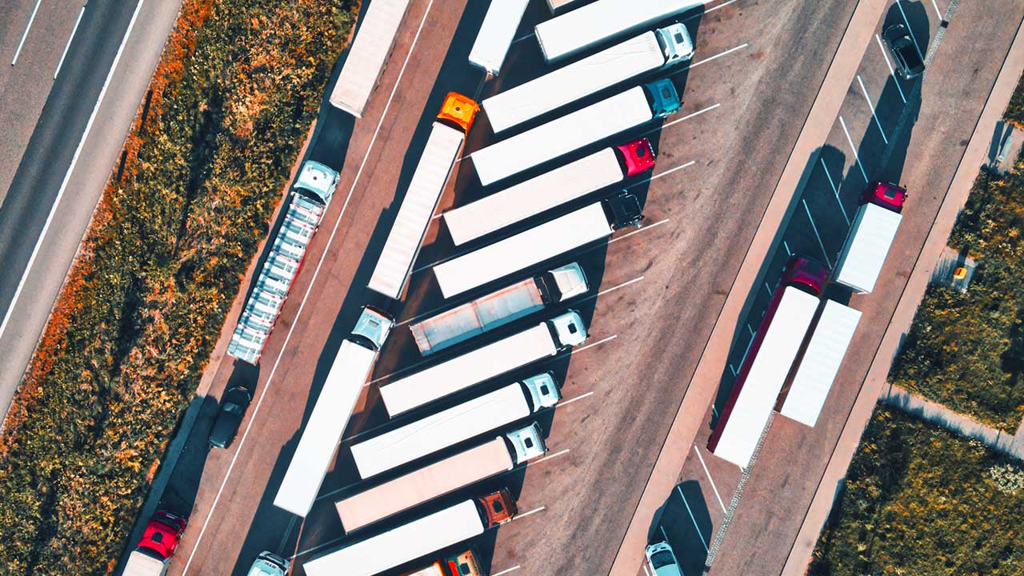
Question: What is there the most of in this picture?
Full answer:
The scene is dominated by paved ground.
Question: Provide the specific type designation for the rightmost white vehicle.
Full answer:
It turns out the rightmost white vehicle is a truck.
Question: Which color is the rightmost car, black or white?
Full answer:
From above, the rightmost car appears black.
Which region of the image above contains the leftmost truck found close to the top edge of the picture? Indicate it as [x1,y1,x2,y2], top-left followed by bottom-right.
[330,0,420,122]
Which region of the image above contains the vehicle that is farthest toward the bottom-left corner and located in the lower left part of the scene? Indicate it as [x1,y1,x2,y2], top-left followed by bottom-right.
[122,508,190,576]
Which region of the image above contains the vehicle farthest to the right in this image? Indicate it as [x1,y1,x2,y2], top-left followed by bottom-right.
[883,25,927,83]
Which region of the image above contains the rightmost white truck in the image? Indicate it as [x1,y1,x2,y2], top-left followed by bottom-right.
[771,177,908,426]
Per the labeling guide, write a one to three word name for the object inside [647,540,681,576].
vehicle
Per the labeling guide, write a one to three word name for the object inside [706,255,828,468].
truck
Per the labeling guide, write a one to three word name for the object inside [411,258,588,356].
truck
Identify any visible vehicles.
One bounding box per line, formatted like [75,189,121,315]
[468,0,532,81]
[647,540,681,576]
[433,188,642,299]
[305,479,517,576]
[883,25,927,83]
[544,0,597,18]
[471,76,680,189]
[379,308,588,419]
[482,22,693,138]
[351,367,562,479]
[122,508,190,576]
[706,255,828,468]
[367,92,480,298]
[335,419,545,534]
[330,0,420,122]
[253,548,298,576]
[771,177,908,426]
[209,385,250,448]
[534,0,715,66]
[274,304,393,517]
[444,135,653,246]
[382,541,484,576]
[411,258,588,356]
[227,161,343,366]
